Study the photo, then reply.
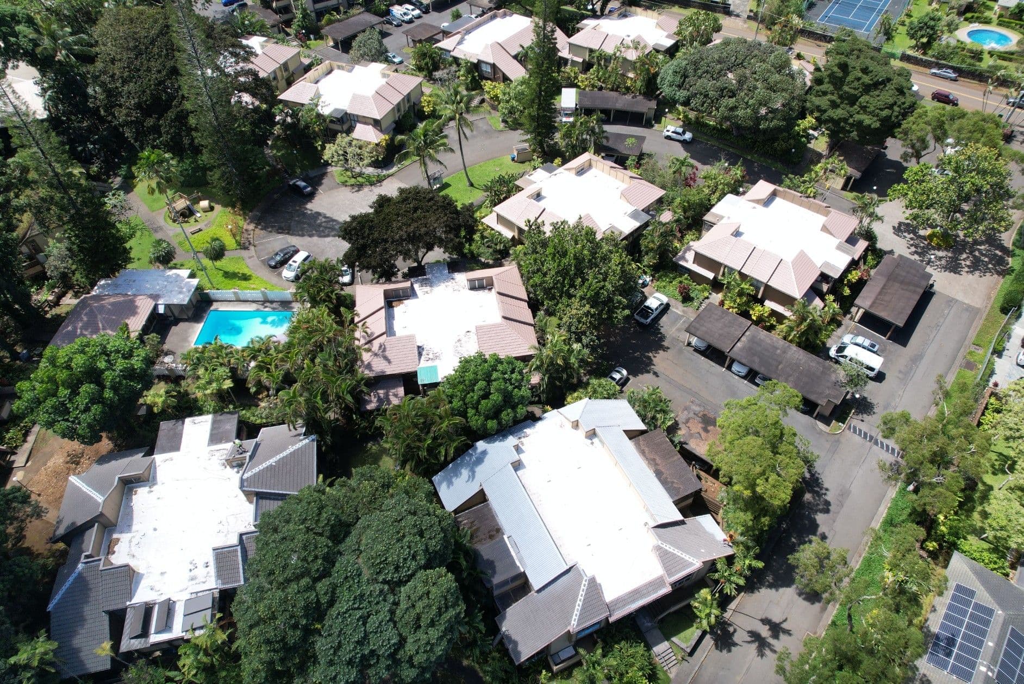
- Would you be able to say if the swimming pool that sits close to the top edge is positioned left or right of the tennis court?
to the right of it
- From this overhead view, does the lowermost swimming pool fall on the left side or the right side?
left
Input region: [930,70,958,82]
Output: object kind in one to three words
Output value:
vehicle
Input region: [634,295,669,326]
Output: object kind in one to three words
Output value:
truck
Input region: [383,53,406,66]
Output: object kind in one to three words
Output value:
vehicle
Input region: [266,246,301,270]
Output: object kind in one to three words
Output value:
car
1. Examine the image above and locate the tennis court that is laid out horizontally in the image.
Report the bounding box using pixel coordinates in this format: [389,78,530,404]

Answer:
[800,0,903,37]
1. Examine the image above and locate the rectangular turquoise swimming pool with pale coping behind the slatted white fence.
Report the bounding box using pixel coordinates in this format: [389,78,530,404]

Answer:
[155,297,322,379]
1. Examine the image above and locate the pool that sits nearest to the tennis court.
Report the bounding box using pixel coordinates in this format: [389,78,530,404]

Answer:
[954,23,1023,50]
